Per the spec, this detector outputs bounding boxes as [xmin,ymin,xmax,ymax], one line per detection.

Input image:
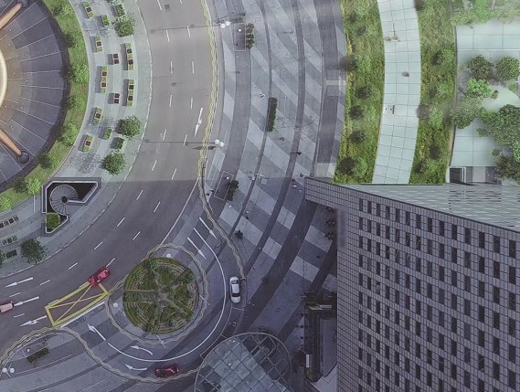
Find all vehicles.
[88,266,111,285]
[0,301,15,313]
[229,275,240,302]
[154,362,178,376]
